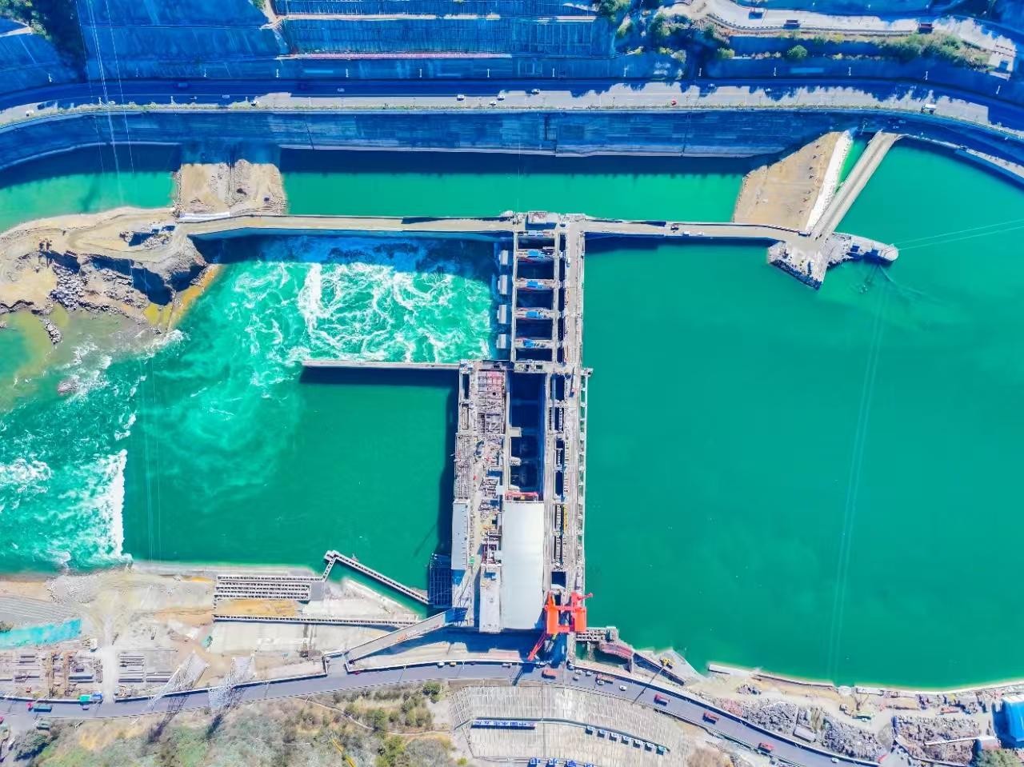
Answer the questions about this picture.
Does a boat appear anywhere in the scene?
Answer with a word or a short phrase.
No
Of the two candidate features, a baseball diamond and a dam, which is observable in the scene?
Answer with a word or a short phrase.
dam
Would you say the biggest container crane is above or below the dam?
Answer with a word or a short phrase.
below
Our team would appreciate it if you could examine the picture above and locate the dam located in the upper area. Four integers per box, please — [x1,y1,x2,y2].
[499,210,585,384]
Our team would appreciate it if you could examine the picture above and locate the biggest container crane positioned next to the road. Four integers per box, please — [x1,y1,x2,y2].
[524,588,592,663]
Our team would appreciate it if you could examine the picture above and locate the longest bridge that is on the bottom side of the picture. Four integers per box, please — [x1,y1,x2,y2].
[326,604,467,674]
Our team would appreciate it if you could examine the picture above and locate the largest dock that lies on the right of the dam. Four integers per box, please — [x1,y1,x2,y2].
[836,234,897,263]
